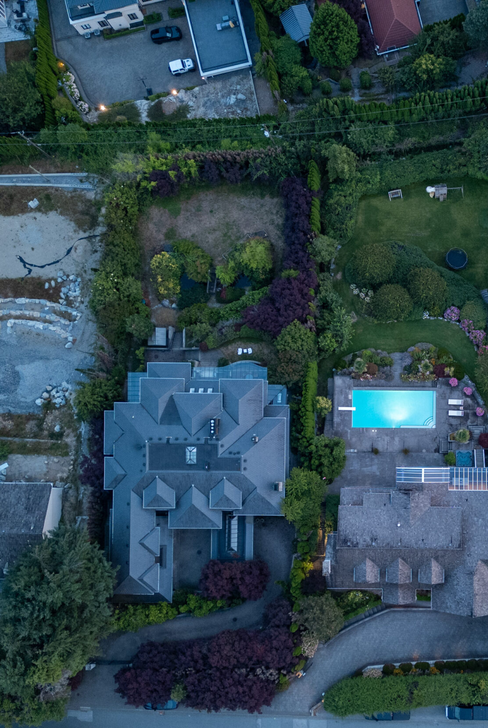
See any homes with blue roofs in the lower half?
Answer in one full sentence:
Yes, looking in the lower half, one can make out a home with a blue roof.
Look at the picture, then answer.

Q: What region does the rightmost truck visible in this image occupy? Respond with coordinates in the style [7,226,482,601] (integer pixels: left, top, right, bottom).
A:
[445,702,488,724]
